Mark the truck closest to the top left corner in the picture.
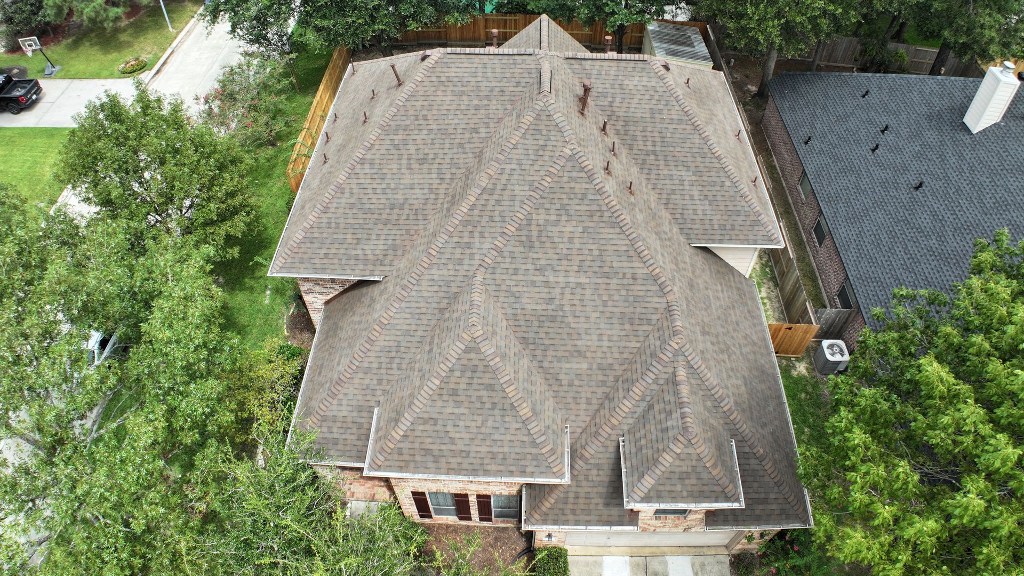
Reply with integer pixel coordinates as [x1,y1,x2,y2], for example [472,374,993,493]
[0,78,48,117]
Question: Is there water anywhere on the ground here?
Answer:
No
